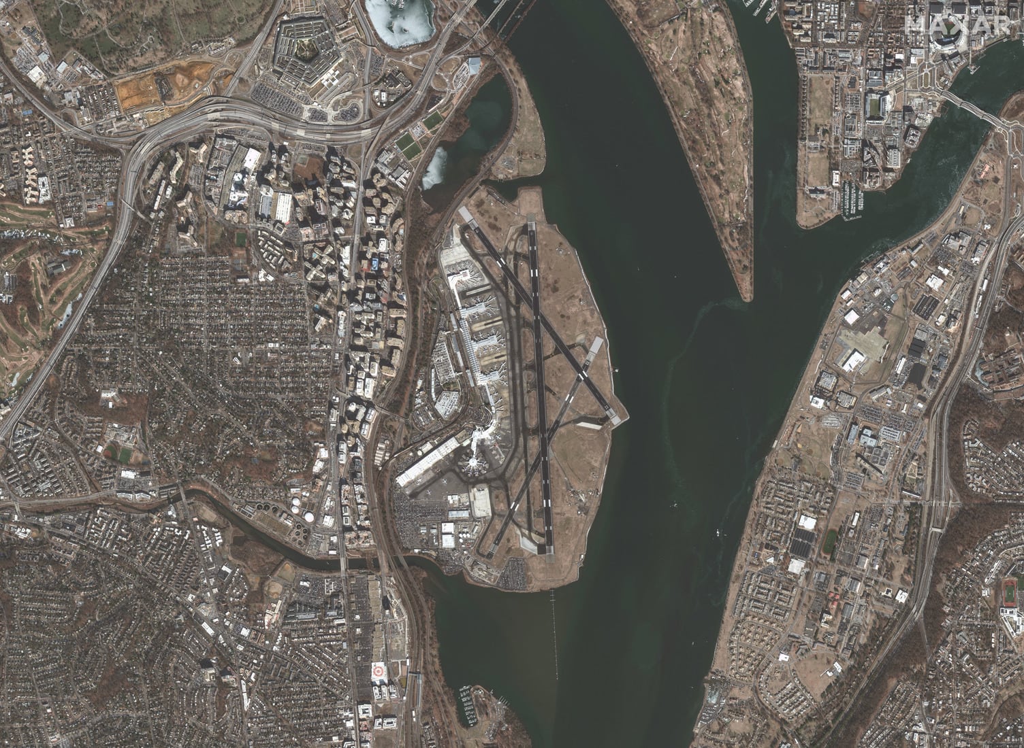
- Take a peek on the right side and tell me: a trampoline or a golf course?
golf course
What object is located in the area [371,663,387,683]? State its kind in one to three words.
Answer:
building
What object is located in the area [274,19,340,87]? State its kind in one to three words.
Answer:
building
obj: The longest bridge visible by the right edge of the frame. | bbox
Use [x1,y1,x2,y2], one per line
[930,83,1002,127]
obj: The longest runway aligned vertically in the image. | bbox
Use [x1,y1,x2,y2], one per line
[528,213,554,563]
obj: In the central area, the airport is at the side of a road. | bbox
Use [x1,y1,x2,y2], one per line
[402,186,629,590]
